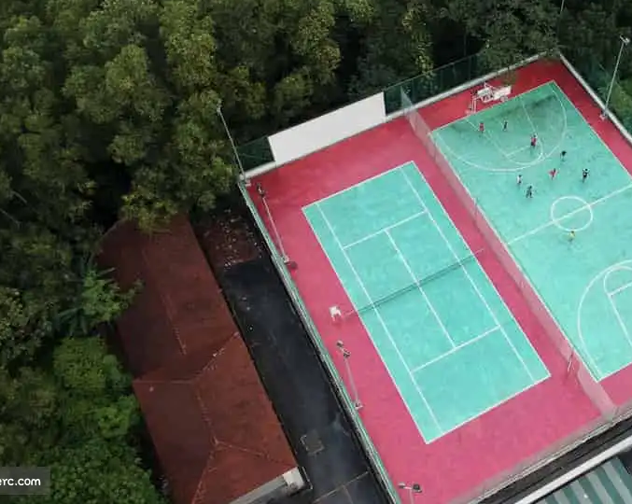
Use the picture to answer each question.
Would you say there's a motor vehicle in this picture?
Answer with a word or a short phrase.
No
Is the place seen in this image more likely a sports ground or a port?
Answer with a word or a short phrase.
sports ground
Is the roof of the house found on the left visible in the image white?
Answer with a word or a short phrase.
No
